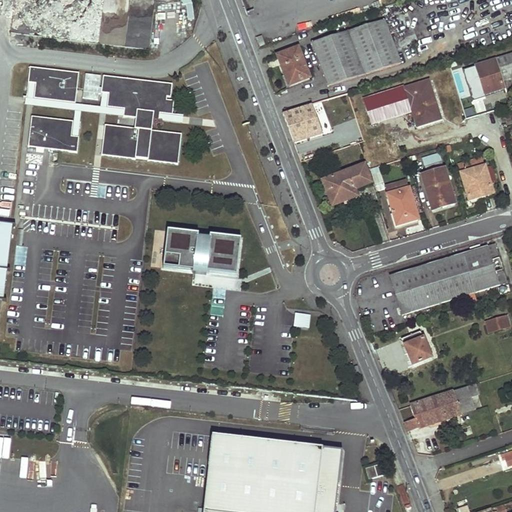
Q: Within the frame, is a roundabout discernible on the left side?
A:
No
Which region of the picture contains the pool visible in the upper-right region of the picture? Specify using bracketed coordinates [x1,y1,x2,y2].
[452,67,470,99]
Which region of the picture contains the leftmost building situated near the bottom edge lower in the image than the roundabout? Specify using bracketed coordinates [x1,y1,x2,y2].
[202,431,323,512]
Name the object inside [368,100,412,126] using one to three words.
barn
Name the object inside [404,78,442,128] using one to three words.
house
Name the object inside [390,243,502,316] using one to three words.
shed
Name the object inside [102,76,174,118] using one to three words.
building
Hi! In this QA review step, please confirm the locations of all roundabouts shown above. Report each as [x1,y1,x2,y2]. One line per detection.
[306,248,354,299]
